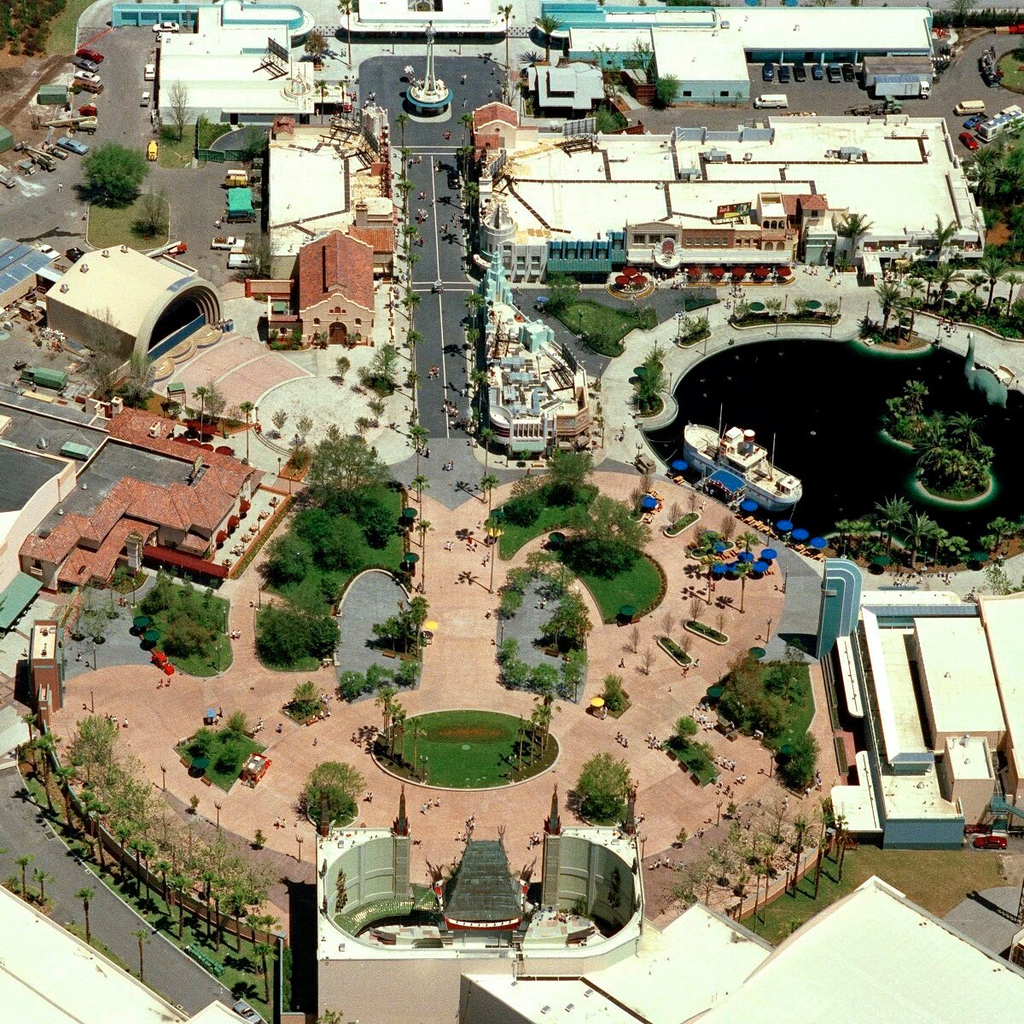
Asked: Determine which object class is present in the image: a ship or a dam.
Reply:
ship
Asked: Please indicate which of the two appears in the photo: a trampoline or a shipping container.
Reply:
shipping container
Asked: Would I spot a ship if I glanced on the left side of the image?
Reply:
No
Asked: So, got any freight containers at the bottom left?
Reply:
No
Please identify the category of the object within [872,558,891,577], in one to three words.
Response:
umbrella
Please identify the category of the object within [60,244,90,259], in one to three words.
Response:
car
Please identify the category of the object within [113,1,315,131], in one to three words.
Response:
building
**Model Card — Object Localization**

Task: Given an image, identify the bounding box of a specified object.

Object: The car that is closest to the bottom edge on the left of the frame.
[231,993,266,1023]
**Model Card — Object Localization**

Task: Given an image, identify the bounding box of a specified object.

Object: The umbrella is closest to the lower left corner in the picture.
[189,758,210,779]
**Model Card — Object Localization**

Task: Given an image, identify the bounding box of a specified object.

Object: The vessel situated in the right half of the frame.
[684,391,805,505]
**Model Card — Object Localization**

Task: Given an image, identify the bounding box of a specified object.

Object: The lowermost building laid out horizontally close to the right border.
[702,877,1024,1024]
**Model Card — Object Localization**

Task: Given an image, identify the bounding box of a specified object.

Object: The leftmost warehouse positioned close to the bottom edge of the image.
[0,887,198,1024]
